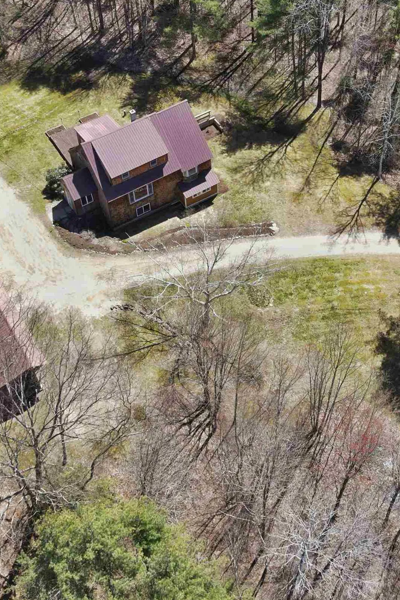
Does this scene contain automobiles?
No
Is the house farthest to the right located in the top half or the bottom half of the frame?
top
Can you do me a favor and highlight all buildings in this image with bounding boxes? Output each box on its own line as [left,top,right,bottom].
[46,98,220,229]
[0,288,49,415]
